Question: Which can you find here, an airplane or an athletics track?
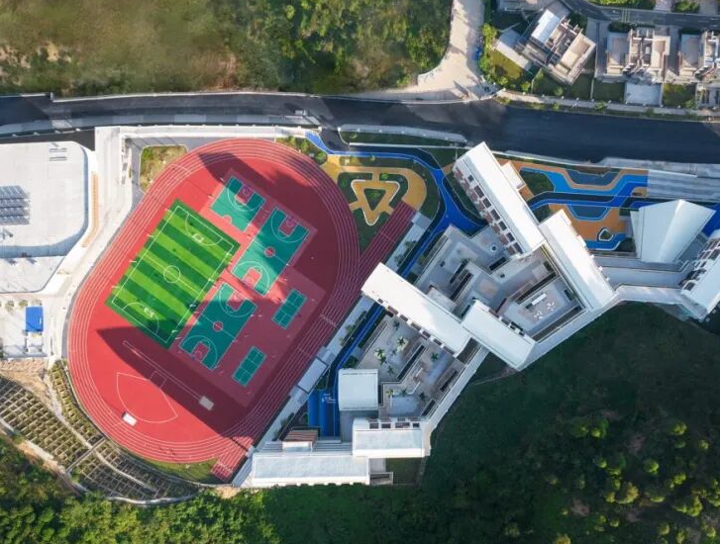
athletics track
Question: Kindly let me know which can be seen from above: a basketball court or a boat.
basketball court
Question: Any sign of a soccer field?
Yes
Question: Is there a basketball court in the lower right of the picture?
No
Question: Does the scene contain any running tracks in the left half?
Yes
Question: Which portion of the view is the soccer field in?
left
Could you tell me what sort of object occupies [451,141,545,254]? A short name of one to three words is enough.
building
